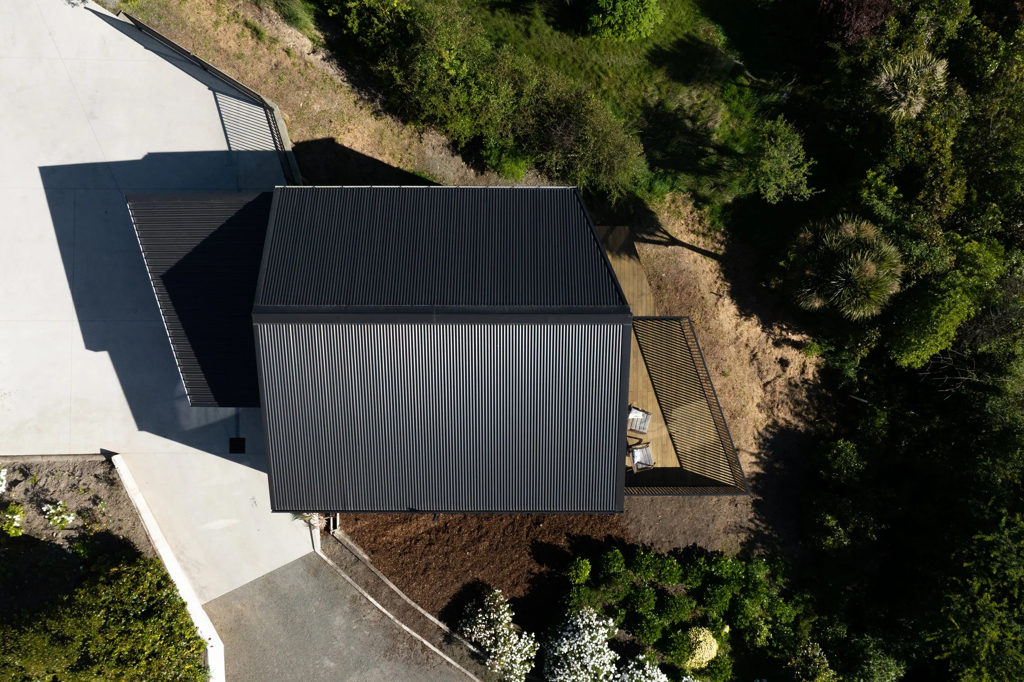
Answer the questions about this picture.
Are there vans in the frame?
No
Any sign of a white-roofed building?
No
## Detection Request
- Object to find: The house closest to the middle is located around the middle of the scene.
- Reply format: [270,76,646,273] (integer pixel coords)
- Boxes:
[252,185,633,514]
